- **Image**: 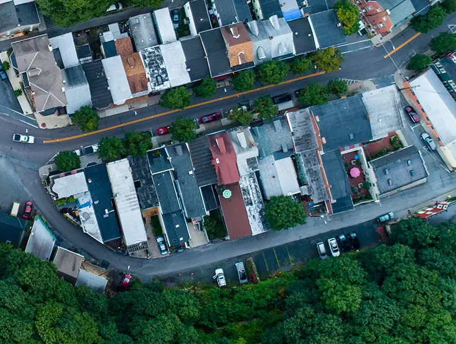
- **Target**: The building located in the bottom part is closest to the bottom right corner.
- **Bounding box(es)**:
[413,198,456,228]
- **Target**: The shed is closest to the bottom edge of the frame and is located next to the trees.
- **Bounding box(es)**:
[74,268,108,295]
